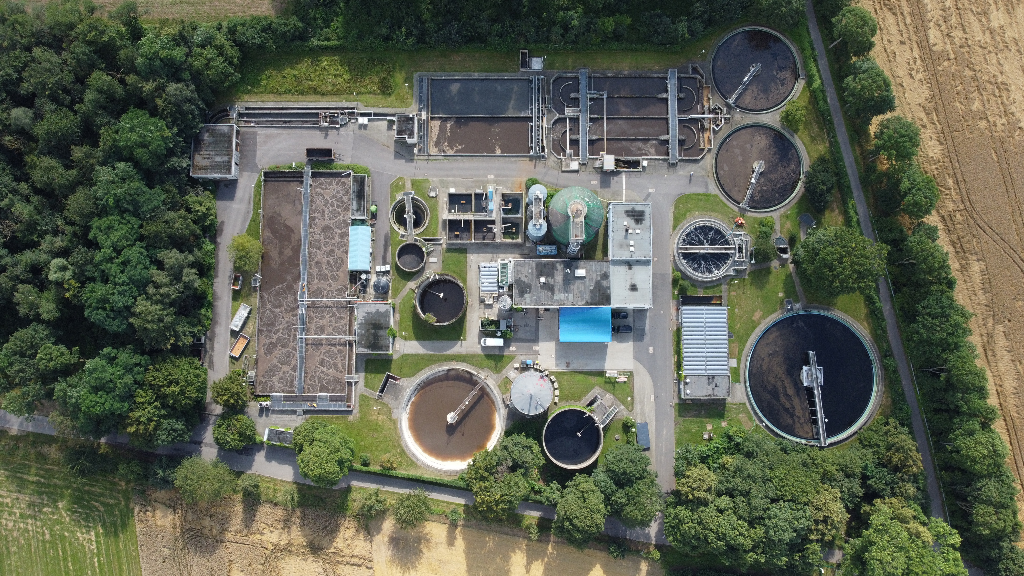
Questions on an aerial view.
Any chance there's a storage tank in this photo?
Yes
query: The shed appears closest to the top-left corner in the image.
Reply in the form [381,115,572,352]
[190,114,240,178]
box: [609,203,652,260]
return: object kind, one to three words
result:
building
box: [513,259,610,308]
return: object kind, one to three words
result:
building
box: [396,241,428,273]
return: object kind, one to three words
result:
storage tank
